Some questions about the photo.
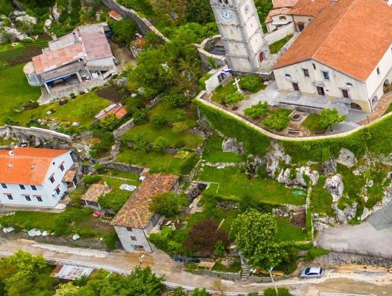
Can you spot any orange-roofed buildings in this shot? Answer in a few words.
Yes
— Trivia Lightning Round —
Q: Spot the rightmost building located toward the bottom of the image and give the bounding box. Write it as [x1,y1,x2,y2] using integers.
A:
[110,165,186,262]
